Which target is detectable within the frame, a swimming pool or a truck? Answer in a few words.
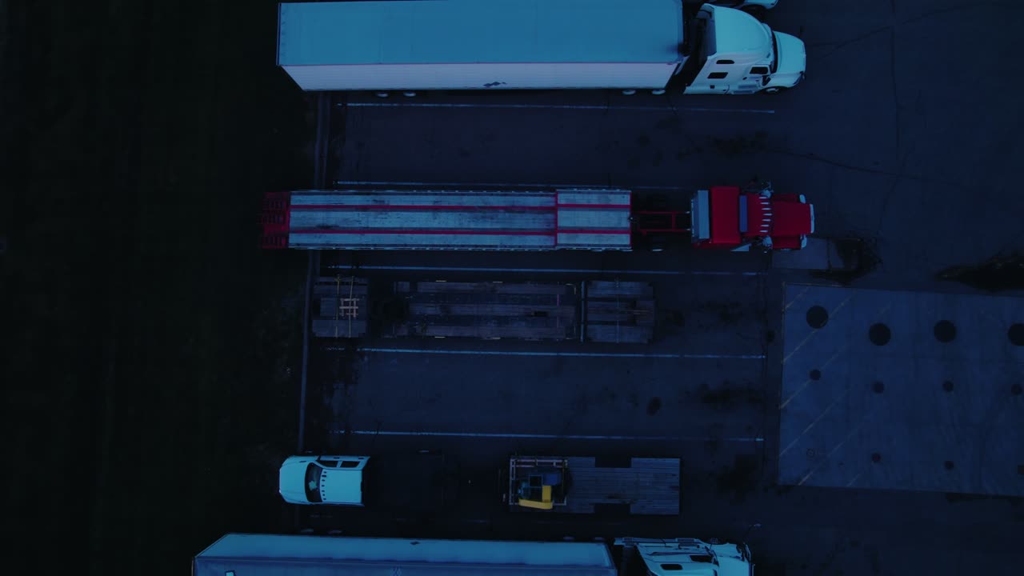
truck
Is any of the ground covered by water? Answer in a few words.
No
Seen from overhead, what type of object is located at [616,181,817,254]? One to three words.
truck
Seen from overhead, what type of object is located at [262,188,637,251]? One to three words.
trailer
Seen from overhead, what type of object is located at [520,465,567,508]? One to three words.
work vehicle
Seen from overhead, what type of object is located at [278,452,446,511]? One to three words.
truck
